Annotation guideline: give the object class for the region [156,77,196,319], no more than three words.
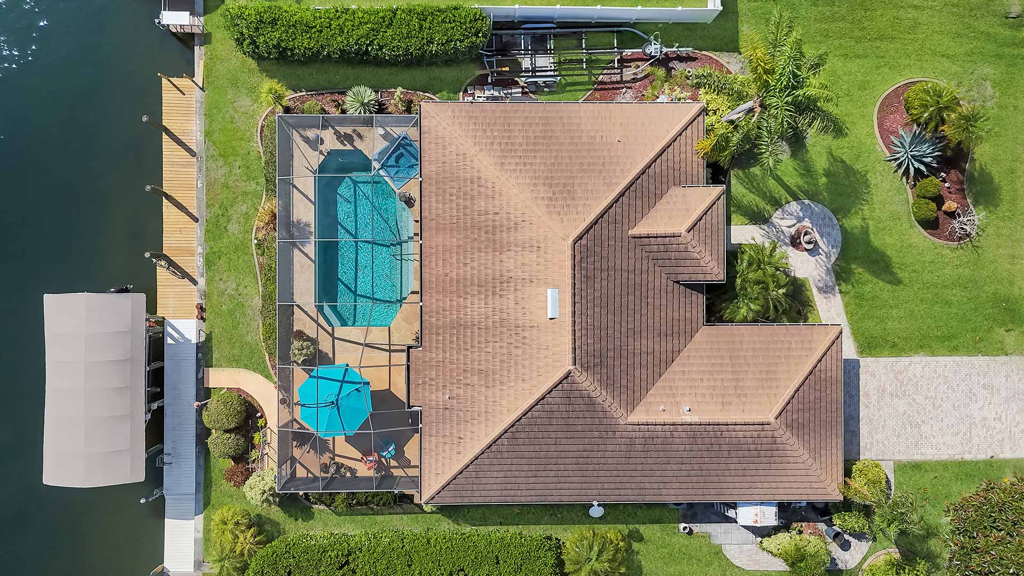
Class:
pier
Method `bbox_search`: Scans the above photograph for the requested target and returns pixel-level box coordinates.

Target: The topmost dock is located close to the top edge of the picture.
[169,0,194,33]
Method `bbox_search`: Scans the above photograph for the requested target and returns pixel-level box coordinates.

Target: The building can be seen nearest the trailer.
[405,99,847,504]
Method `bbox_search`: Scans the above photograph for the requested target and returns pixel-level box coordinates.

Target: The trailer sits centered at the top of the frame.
[485,14,694,84]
